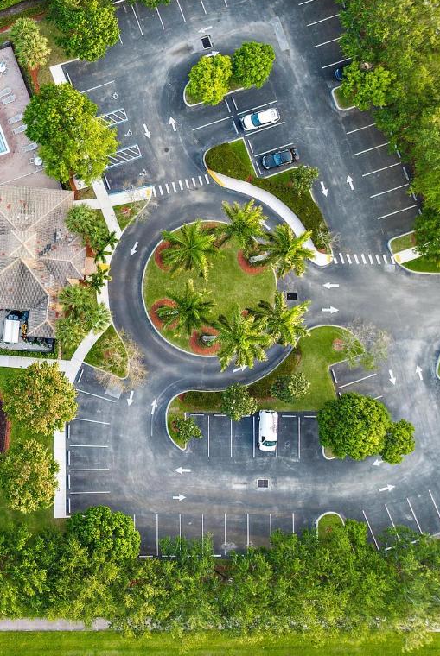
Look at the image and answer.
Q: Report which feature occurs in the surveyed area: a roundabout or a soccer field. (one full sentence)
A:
It is a roundabout that can be seen here.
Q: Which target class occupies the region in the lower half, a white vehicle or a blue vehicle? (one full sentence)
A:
Looking in the lower half, you will find a white vehicle.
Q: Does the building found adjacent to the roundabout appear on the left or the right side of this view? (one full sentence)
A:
It is on the left.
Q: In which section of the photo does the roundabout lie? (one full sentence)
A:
The roundabout sits in the center section of the image.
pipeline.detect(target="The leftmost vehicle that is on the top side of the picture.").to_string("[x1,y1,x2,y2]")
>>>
[244,106,282,129]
